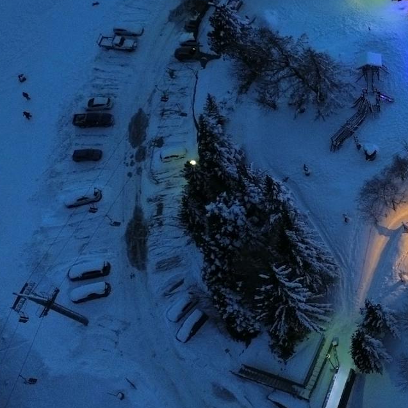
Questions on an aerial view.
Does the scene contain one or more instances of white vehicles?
No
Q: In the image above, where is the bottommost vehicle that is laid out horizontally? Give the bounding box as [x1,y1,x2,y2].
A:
[63,282,109,305]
